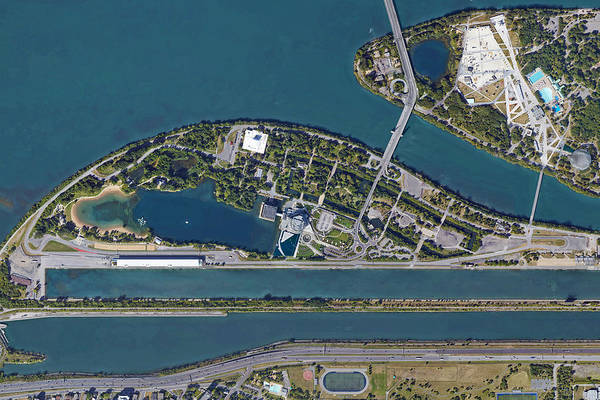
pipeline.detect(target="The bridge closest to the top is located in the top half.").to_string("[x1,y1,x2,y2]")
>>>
[382,0,415,155]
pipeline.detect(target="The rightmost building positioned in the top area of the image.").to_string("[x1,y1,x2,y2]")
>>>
[571,149,593,170]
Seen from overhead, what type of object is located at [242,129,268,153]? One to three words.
building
